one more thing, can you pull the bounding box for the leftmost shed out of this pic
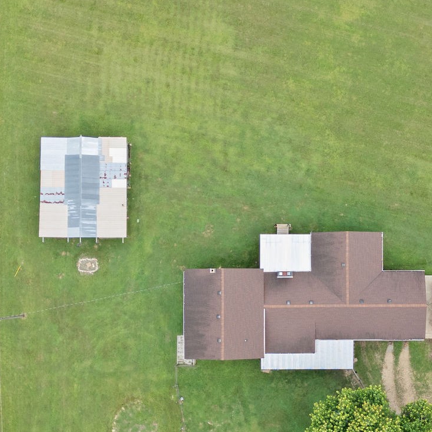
[37,135,128,243]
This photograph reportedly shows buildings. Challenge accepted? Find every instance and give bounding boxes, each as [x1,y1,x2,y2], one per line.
[182,231,428,369]
[37,135,128,243]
